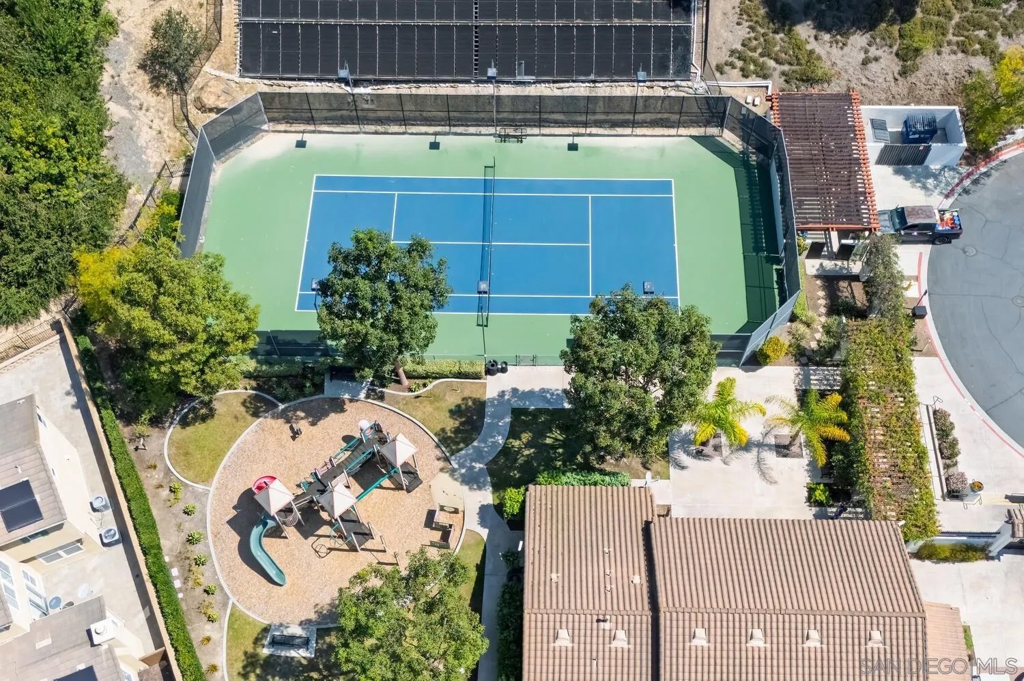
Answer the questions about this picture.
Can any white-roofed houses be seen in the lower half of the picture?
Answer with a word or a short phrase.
Yes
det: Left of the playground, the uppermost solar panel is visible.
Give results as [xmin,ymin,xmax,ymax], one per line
[0,467,40,530]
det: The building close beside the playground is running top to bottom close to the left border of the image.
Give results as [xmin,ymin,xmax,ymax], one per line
[0,395,106,636]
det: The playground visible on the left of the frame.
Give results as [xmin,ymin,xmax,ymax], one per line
[203,391,469,632]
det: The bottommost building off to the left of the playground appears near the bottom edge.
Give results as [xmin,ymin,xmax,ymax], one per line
[0,592,148,681]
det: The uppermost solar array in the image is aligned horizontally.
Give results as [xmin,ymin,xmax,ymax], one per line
[229,0,695,84]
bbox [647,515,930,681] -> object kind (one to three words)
building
